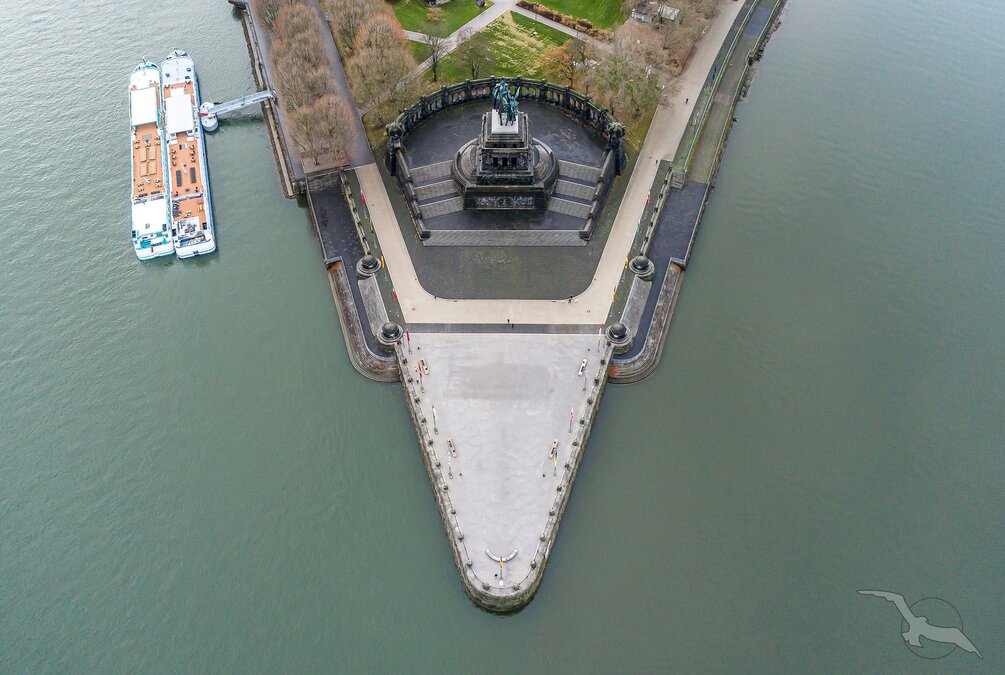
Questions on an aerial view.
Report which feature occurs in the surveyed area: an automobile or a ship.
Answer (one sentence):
There is a ship in the scene.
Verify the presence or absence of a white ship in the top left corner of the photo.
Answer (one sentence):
Yes, you'll find a white ship in the top left corner of the photo.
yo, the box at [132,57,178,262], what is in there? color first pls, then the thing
white ship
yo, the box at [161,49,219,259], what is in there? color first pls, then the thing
white ship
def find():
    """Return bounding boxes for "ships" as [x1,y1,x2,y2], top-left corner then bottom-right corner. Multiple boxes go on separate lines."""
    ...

[132,57,178,262]
[161,49,219,259]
